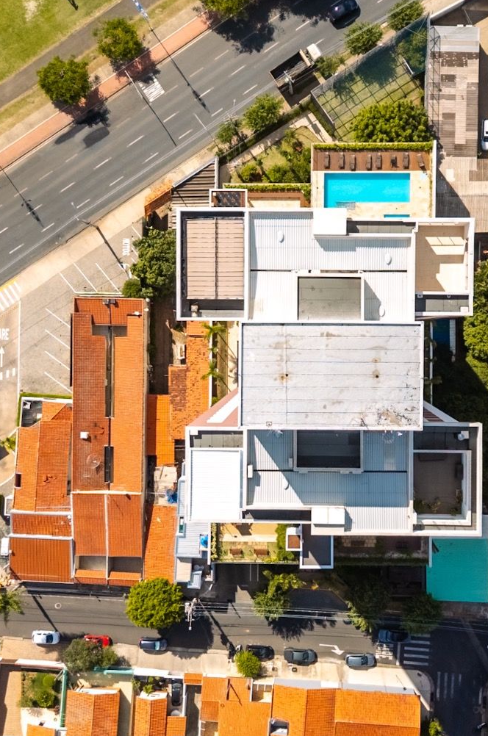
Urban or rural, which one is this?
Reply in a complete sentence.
From above, the setting appears urban.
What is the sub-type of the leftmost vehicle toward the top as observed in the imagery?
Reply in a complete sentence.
What you see as the leftmost vehicle toward the top is a truck.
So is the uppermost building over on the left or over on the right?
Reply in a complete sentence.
The uppermost building sits on the right side.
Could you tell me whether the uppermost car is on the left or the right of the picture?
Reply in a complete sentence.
It is on the right.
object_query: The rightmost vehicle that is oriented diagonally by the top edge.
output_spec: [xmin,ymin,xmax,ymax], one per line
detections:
[328,0,359,24]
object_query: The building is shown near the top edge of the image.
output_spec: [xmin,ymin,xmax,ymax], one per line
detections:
[429,27,479,162]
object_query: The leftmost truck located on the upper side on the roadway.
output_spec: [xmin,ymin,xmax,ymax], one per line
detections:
[265,40,323,88]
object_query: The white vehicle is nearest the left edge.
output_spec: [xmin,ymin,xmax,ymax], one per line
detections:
[31,629,60,645]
